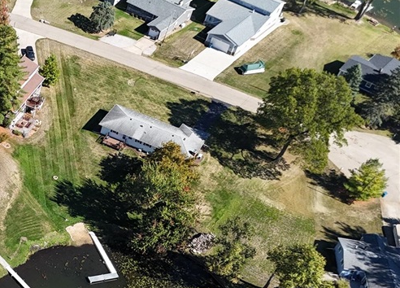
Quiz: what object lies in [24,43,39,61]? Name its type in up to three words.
car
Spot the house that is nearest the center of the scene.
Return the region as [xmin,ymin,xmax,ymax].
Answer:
[99,103,203,162]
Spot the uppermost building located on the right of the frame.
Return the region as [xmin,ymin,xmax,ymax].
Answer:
[206,0,289,54]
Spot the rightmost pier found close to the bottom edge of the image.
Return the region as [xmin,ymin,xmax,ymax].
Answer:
[87,231,120,284]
